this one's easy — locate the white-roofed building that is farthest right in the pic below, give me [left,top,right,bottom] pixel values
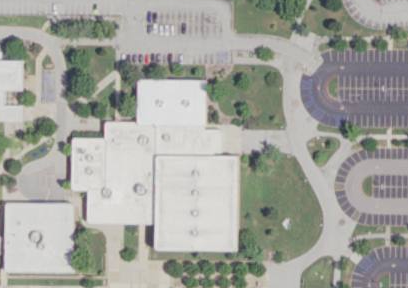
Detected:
[72,80,238,252]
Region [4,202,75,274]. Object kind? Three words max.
building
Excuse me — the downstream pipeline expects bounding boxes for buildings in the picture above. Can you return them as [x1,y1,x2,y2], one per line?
[0,51,24,123]
[4,202,75,274]
[72,80,238,252]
